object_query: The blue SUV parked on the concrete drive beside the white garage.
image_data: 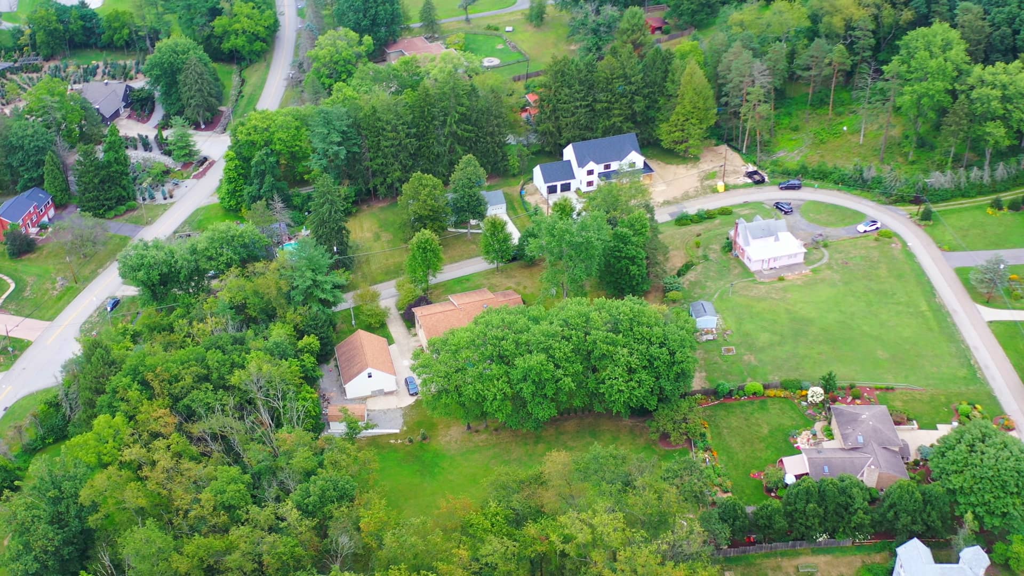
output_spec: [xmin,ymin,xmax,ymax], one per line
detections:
[403,373,420,398]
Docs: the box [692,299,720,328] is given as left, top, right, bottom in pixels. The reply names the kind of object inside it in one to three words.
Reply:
shed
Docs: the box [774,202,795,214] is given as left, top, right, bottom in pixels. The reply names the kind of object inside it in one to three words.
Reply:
vehicle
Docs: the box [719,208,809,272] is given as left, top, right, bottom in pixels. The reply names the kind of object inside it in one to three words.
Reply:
house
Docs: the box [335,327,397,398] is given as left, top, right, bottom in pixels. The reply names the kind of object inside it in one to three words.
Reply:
building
